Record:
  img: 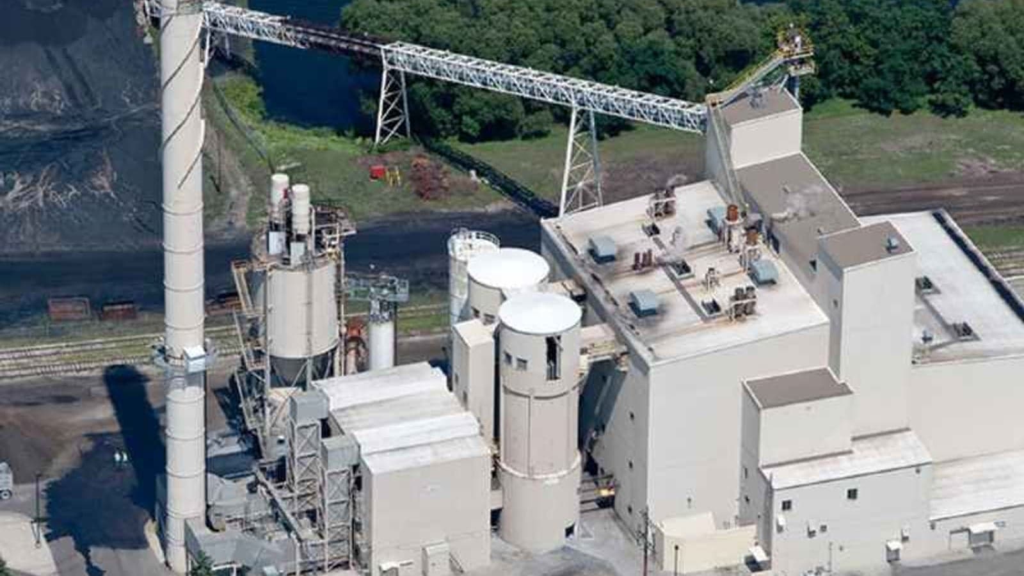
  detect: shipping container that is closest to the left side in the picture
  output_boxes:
[47,294,91,320]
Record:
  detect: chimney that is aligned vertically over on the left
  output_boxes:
[151,0,217,576]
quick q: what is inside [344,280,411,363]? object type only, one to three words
silo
